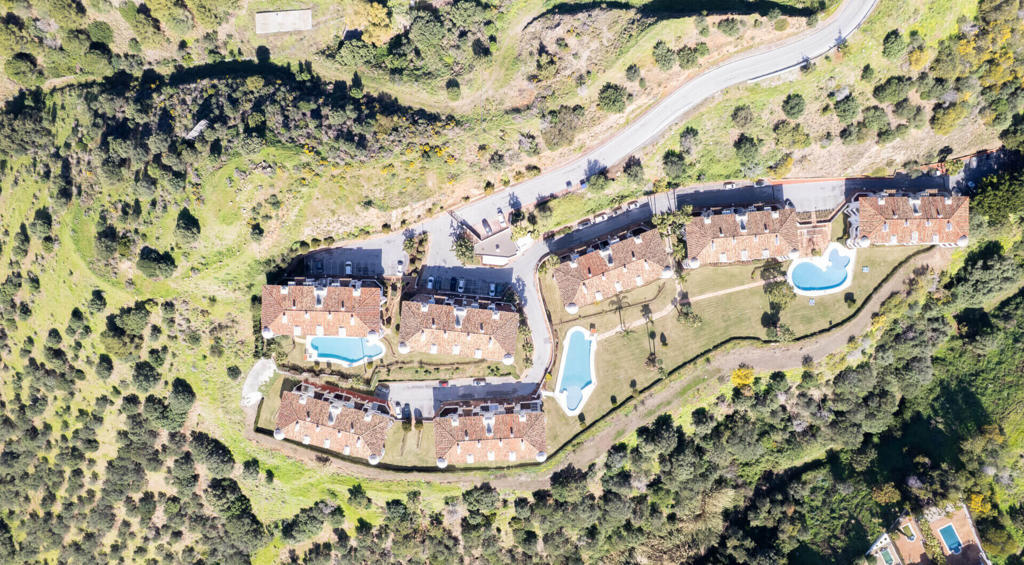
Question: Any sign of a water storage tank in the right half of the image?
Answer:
No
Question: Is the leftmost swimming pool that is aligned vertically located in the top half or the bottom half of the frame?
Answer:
bottom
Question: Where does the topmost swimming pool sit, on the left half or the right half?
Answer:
right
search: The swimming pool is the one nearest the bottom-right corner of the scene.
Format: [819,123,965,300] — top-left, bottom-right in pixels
[937,522,963,556]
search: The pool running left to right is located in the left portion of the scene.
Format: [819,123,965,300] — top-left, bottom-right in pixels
[300,335,386,369]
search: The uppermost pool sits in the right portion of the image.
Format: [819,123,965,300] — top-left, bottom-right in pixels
[787,242,857,297]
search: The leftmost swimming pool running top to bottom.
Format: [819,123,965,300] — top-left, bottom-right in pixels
[554,326,598,418]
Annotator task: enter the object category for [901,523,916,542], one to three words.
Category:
swimming pool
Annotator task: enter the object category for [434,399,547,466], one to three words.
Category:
building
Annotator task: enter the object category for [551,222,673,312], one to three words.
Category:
building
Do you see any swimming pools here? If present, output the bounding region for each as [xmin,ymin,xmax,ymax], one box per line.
[787,242,857,297]
[300,335,386,369]
[901,523,916,542]
[937,522,963,556]
[880,548,895,565]
[554,326,598,418]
